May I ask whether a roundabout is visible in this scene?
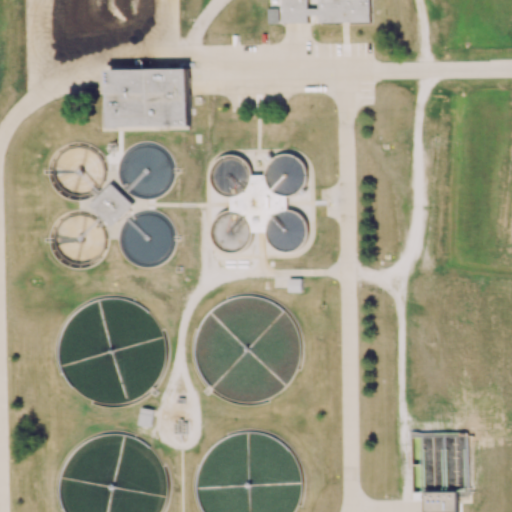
No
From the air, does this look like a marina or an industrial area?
industrial area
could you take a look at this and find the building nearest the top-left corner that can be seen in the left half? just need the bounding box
[102,68,190,129]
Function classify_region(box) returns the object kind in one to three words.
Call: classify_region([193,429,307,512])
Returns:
storage tank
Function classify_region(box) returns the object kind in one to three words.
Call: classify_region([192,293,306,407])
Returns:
storage tank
